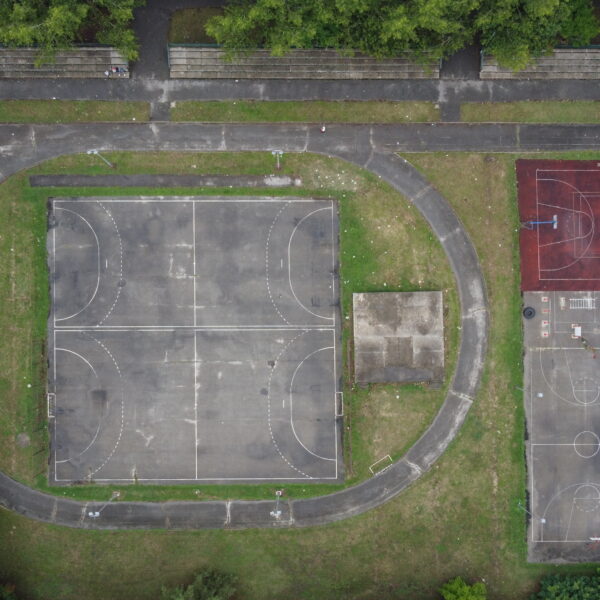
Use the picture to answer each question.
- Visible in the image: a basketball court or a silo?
basketball court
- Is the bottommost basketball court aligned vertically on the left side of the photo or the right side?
right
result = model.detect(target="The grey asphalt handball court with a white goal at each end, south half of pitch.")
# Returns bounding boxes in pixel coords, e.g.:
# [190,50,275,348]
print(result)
[47,328,345,486]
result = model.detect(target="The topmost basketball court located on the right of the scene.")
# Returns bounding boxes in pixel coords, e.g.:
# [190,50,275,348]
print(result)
[516,159,600,292]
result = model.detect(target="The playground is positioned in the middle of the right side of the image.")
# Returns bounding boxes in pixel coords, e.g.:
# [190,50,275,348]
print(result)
[521,291,600,349]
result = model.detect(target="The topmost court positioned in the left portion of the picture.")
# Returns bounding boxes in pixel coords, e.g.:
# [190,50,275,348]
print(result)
[47,196,342,328]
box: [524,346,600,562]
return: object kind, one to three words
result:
basketball court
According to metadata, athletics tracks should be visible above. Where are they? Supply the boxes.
[0,123,600,530]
